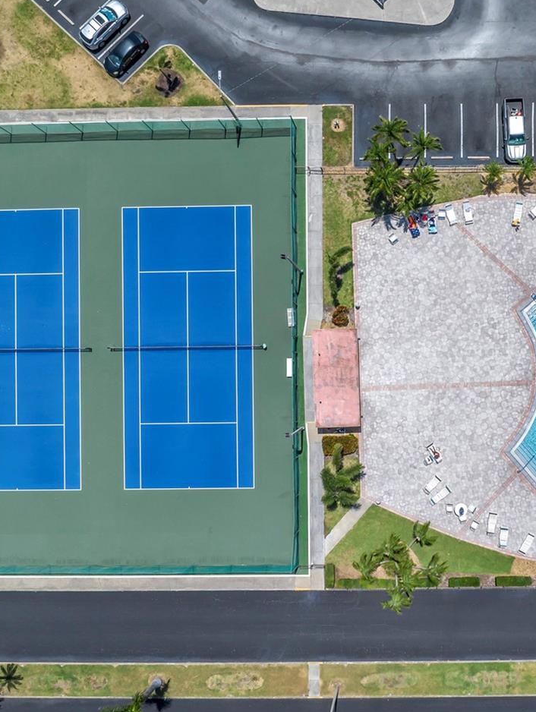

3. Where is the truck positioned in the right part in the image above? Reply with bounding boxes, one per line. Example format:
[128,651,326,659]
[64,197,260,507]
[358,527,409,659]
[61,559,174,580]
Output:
[500,95,530,164]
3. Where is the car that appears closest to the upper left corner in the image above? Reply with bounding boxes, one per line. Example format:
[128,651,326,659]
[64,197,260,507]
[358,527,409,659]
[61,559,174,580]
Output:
[76,1,129,51]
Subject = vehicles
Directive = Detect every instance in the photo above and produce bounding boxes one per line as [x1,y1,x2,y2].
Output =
[76,1,129,51]
[101,28,153,80]
[500,95,530,164]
